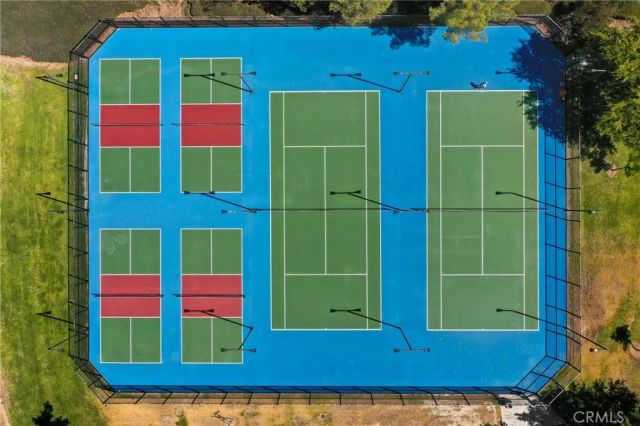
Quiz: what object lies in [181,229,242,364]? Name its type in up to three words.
sports court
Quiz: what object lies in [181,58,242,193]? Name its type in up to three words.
sports court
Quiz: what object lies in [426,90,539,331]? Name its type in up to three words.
tennis court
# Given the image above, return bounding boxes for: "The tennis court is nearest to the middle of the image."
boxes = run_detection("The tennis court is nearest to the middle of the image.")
[270,91,381,330]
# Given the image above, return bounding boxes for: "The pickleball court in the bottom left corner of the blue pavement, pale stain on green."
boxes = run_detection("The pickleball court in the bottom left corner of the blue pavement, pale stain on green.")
[100,229,161,363]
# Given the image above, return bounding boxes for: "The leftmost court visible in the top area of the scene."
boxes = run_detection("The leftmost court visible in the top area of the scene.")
[99,58,161,193]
